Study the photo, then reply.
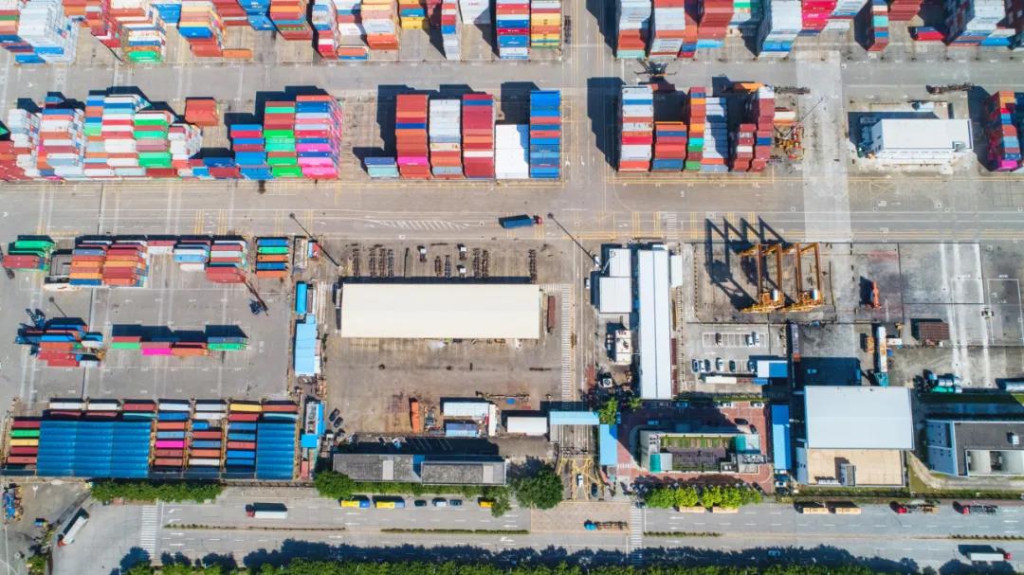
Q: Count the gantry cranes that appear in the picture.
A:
2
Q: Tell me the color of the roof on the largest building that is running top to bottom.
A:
white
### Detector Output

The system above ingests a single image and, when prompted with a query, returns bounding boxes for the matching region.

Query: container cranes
[773,238,825,308]
[735,238,784,308]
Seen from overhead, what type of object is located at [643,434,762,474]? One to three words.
building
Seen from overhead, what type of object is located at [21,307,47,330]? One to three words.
work vehicle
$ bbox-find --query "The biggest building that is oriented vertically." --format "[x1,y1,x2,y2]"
[634,249,673,400]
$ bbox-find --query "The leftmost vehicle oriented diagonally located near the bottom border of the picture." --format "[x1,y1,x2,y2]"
[56,513,93,548]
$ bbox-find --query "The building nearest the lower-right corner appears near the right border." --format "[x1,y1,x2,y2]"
[925,422,1024,476]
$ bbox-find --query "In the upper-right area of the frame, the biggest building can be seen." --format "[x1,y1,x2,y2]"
[857,118,972,177]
